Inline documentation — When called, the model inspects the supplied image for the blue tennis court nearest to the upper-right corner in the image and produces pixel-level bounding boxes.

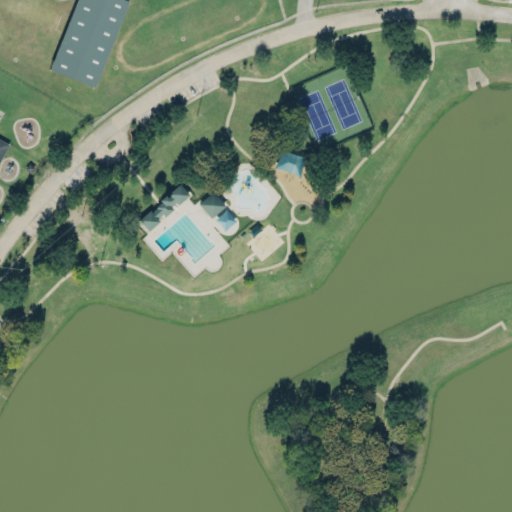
[326,80,362,130]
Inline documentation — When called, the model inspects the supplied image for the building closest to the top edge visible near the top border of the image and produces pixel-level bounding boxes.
[52,0,129,88]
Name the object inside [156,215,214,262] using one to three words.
swimming pool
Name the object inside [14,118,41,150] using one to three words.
playground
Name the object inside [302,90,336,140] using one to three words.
tennis court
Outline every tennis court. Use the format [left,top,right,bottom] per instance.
[326,80,362,130]
[302,90,336,140]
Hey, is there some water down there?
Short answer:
Yes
